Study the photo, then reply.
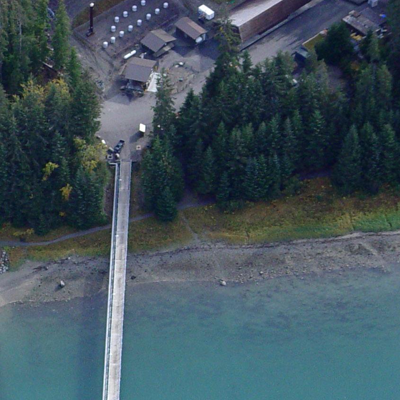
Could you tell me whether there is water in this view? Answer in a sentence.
Yes, there is water in the image.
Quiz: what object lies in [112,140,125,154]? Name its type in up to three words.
vehicle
